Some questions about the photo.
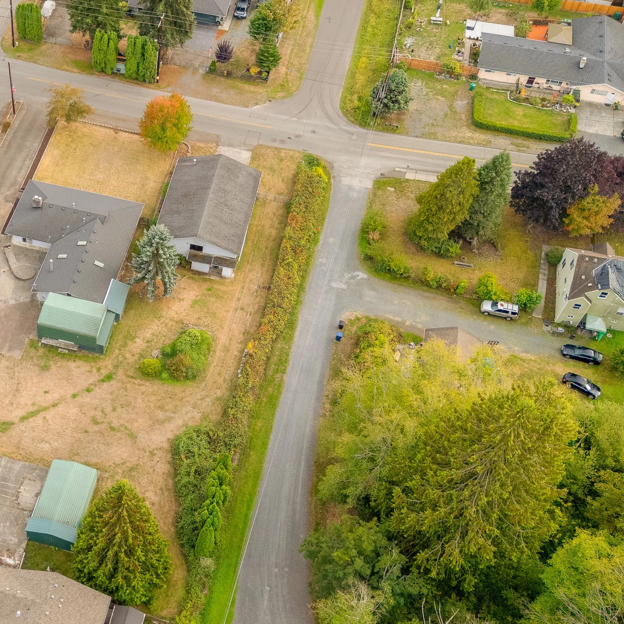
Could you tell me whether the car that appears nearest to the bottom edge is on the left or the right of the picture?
right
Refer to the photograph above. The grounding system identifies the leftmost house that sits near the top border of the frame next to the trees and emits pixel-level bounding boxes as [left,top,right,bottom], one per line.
[180,0,230,28]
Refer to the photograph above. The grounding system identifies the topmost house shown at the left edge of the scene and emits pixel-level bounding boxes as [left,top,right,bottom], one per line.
[3,178,145,307]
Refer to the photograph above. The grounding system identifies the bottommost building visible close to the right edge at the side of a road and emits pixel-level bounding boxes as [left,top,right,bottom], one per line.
[552,247,624,335]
